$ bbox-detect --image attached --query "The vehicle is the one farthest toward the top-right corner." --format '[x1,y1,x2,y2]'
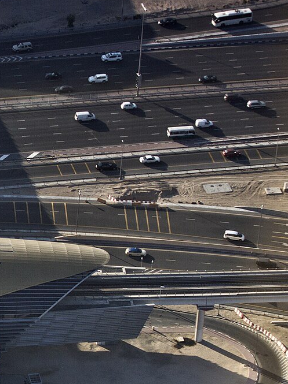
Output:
[208,4,256,25]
